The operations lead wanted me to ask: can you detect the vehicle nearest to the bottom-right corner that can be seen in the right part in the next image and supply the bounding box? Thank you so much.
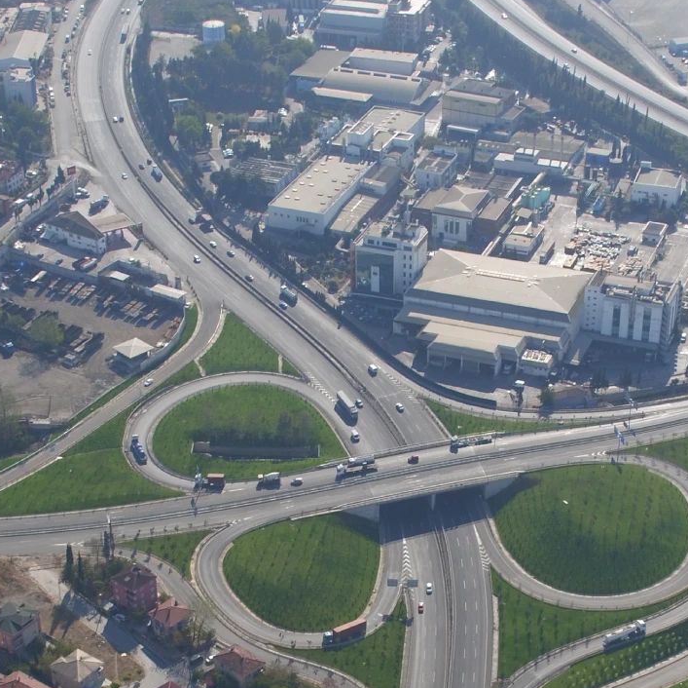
[602,622,648,643]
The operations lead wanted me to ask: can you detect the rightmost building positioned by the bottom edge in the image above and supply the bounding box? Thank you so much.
[212,646,269,688]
